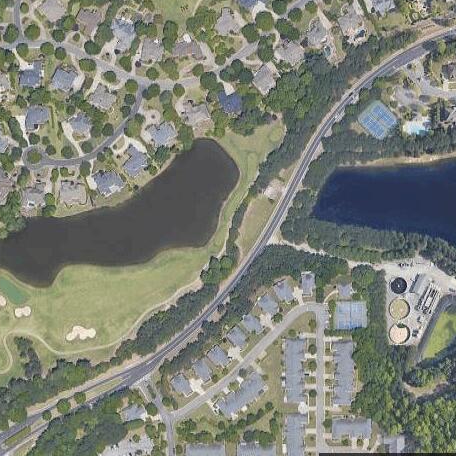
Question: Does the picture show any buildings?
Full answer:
Yes, a building appears in the view.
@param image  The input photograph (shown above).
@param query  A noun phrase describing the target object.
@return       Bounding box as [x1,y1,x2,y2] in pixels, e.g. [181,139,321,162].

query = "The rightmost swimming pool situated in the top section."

[403,118,431,136]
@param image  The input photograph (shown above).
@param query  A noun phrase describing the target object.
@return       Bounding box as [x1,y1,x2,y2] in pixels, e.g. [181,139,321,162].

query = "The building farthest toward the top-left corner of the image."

[36,0,68,20]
